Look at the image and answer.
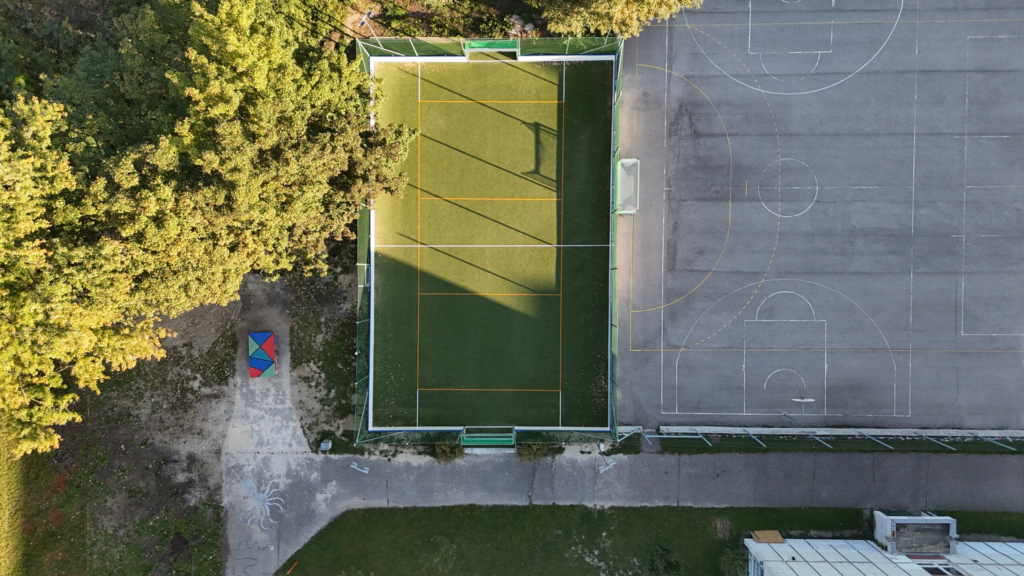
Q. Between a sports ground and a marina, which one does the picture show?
sports ground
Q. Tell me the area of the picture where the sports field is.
center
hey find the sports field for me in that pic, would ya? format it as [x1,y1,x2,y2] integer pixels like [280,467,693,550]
[373,48,613,447]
